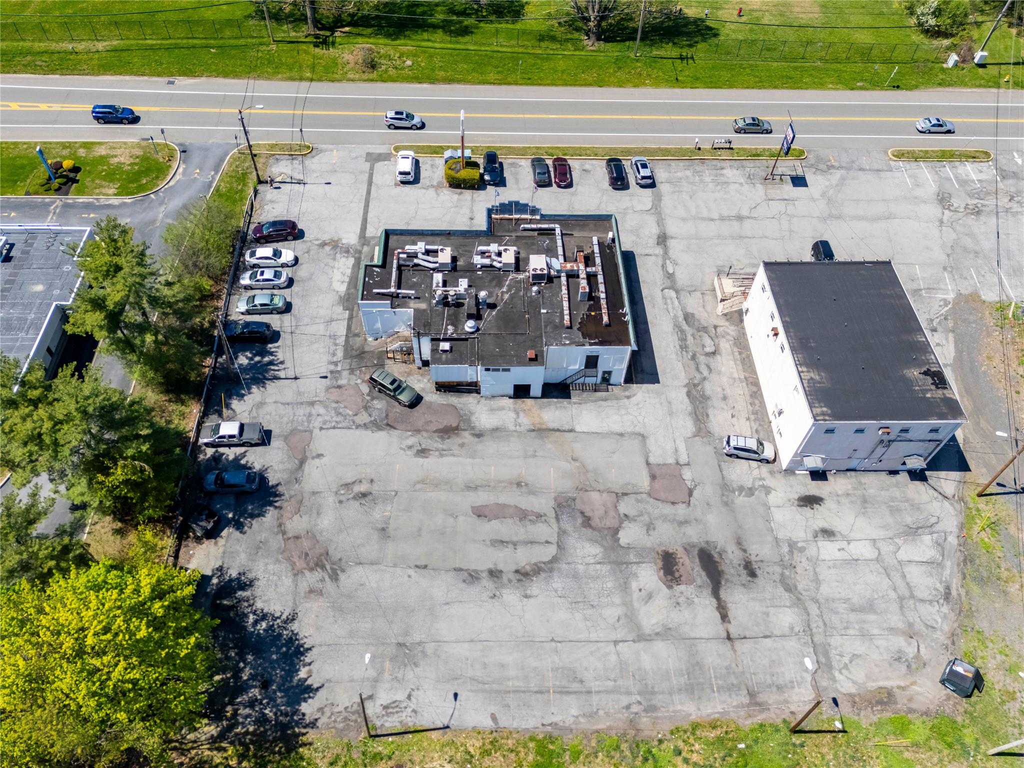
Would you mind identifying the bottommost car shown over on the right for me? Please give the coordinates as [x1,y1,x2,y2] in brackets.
[724,435,779,464]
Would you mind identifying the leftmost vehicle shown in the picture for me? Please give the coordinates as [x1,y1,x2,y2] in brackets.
[90,104,133,124]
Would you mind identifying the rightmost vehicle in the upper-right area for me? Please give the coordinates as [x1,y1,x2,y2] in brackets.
[916,117,958,134]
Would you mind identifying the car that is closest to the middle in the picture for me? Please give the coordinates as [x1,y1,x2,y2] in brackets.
[367,366,420,408]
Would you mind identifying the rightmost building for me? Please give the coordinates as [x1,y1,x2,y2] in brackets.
[745,255,967,474]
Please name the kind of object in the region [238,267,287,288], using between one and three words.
car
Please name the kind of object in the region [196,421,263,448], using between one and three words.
truck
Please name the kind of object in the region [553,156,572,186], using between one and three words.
car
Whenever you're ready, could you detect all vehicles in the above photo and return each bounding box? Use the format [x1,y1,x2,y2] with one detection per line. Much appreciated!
[482,148,502,183]
[724,435,779,464]
[553,156,572,186]
[234,292,285,314]
[734,116,774,133]
[222,319,275,342]
[607,158,628,187]
[385,109,422,128]
[632,157,656,185]
[244,247,293,267]
[90,104,133,124]
[806,234,837,257]
[250,219,297,241]
[916,117,958,134]
[367,366,420,408]
[531,158,550,186]
[238,267,287,288]
[196,421,263,448]
[395,152,415,181]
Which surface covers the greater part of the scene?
paved ground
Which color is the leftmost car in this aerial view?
blue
